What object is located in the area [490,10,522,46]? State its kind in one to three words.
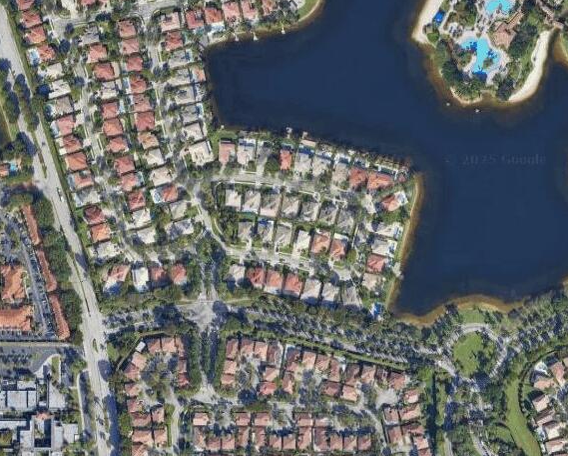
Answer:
building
